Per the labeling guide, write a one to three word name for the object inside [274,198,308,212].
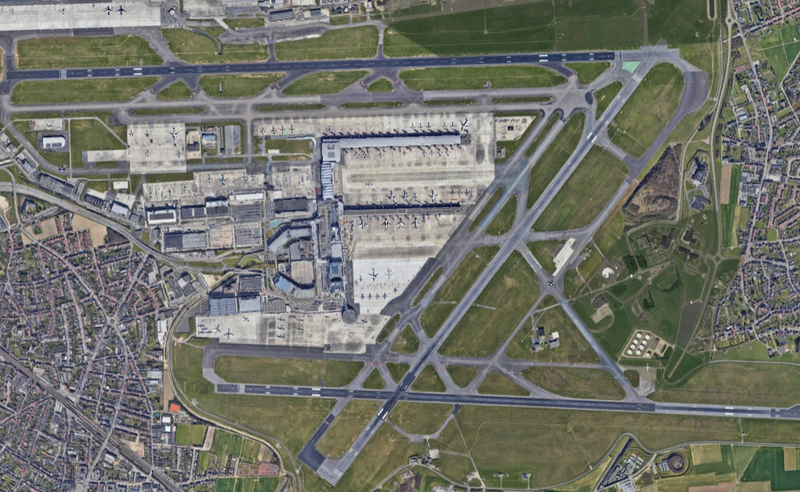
hangar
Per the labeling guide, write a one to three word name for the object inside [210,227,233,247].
building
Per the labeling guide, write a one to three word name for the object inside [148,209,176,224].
hangar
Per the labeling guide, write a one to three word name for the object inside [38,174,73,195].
building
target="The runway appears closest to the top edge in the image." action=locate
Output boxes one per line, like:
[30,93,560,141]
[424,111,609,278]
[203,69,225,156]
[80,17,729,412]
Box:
[7,48,679,80]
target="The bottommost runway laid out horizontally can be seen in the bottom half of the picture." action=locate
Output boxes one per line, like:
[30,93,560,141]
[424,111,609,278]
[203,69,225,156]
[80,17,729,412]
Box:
[216,383,800,418]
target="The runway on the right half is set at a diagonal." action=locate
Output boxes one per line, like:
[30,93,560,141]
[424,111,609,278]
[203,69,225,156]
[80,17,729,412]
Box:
[330,55,655,480]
